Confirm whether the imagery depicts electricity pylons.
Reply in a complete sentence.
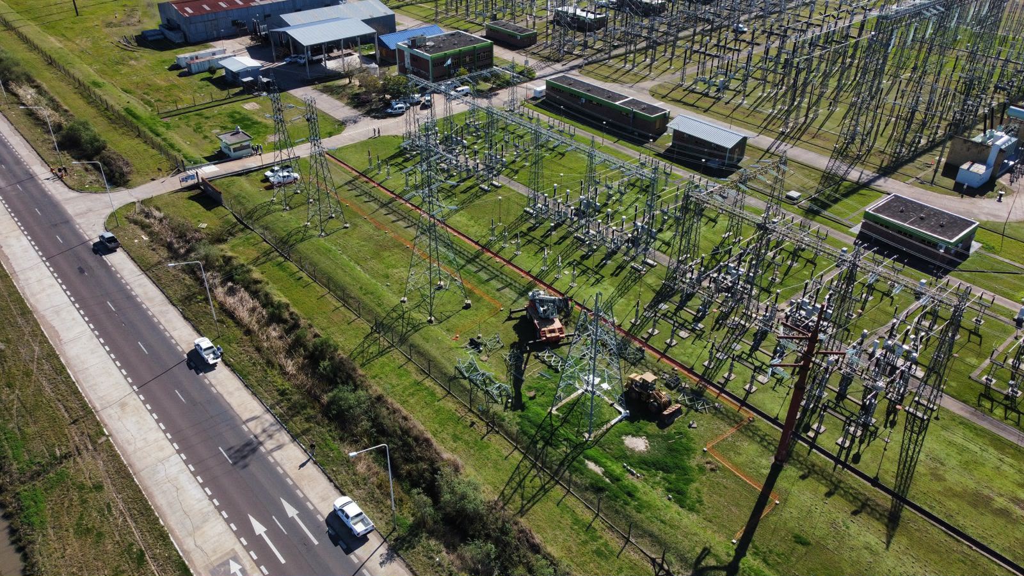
Yes, an electricity pylon appears in the view.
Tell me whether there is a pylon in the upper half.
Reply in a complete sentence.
Yes, a pylon can be seen in the upper half.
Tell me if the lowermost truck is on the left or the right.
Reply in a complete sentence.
The lowermost truck sits on the left side.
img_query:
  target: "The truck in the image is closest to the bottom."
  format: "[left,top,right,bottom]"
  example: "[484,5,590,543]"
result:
[331,500,378,545]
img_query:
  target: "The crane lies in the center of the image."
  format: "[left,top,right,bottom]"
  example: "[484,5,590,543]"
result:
[503,289,586,354]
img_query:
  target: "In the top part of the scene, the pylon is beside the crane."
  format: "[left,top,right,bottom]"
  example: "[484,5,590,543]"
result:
[391,114,474,322]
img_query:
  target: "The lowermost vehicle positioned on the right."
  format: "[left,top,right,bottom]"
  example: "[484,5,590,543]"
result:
[619,371,686,432]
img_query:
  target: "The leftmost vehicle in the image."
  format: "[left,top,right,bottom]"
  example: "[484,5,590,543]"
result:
[98,234,121,253]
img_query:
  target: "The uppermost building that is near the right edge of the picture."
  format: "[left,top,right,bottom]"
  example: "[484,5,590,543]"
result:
[859,194,979,266]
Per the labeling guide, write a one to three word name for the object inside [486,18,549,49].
shed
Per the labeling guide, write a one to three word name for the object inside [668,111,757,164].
building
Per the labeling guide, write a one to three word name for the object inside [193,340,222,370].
truck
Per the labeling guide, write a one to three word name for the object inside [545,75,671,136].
building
